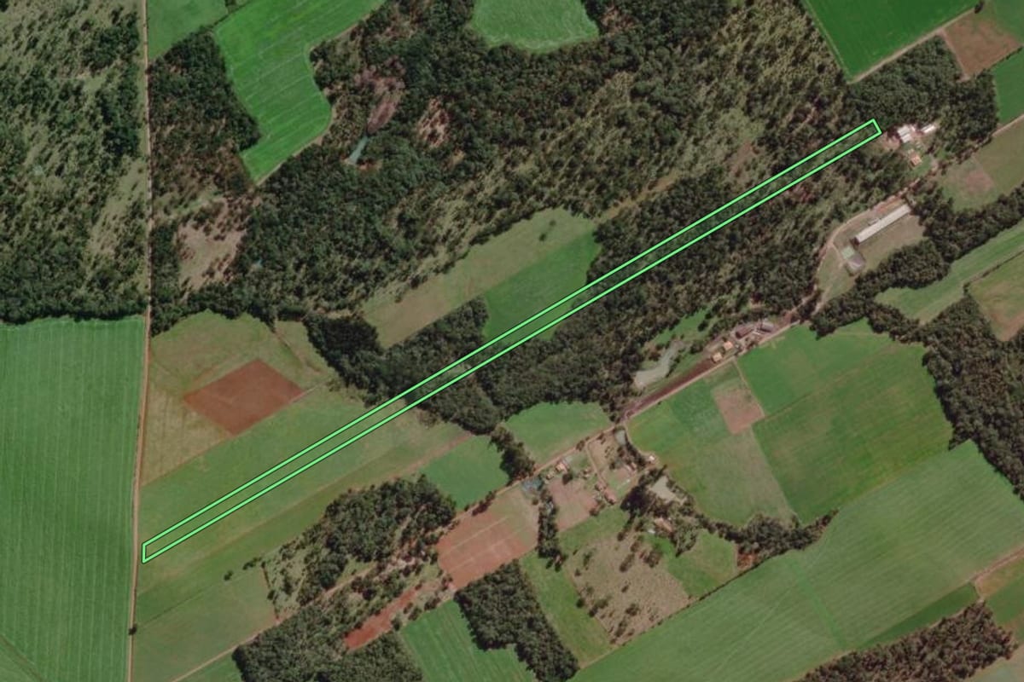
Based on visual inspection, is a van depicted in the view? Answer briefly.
No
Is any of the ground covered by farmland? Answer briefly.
Yes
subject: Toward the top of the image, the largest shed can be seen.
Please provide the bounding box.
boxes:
[857,204,912,242]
